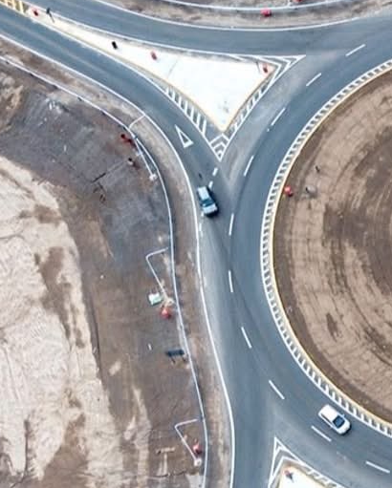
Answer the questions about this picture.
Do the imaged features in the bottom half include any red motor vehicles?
No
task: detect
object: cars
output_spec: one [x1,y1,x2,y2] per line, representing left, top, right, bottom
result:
[318,403,349,433]
[197,186,218,217]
